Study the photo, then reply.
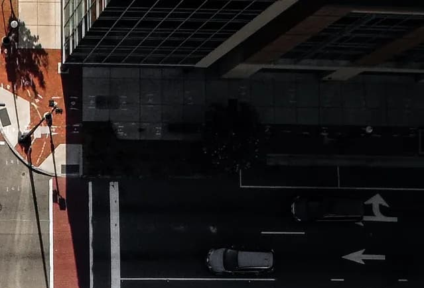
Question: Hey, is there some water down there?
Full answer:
No, the scene doesn't show any water.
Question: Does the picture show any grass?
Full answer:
No, there's no grass in this view.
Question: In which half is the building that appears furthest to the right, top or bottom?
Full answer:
The building that appears furthest to the right sits in the top half of the picture.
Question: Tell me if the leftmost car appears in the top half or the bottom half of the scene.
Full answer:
The leftmost car sits in the bottom half of the picture.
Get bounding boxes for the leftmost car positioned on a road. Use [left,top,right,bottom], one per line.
[205,243,276,278]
